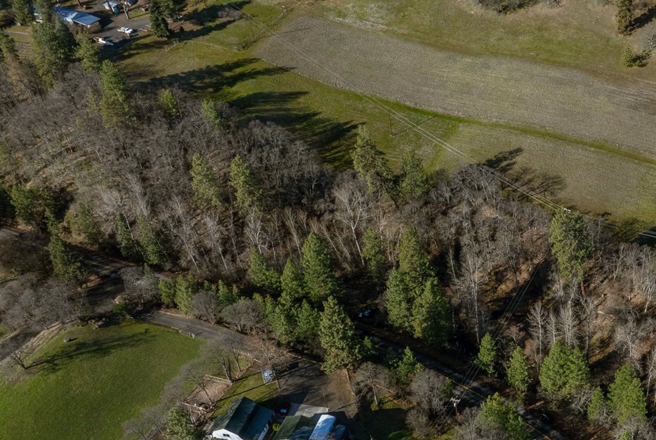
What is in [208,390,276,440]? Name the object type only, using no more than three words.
house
